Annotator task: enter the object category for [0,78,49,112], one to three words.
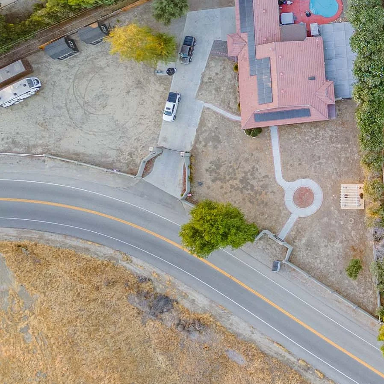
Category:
vehicle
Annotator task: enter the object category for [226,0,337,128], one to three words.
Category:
house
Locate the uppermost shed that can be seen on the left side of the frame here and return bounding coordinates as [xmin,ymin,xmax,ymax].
[78,20,110,45]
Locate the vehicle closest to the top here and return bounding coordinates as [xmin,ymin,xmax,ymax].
[179,35,196,66]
